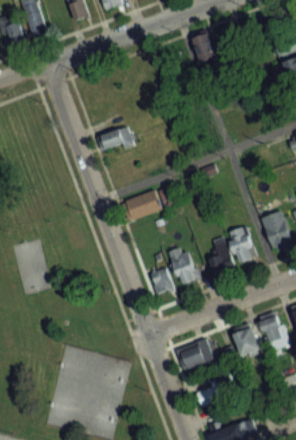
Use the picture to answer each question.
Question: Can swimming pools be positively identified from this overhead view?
No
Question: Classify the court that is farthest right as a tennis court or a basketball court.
basketball court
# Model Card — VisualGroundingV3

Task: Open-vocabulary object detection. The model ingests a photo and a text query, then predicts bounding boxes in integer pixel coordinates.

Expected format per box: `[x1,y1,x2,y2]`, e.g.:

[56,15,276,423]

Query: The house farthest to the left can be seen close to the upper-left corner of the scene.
[0,15,24,41]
